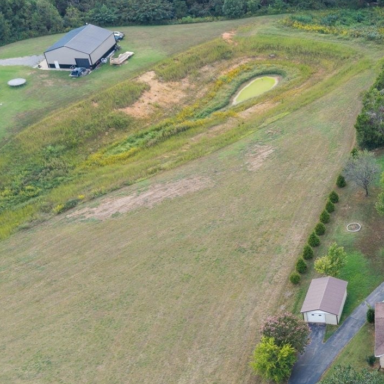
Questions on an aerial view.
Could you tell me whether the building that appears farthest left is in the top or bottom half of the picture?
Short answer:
top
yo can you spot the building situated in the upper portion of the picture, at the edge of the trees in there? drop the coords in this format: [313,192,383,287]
[44,23,116,70]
